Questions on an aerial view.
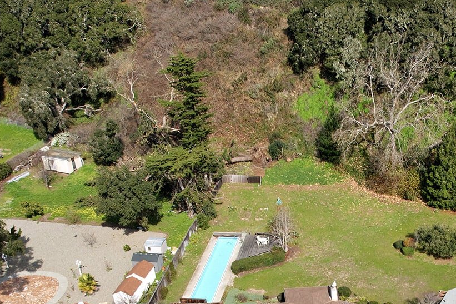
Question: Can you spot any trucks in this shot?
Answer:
No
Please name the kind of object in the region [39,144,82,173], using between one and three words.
shed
